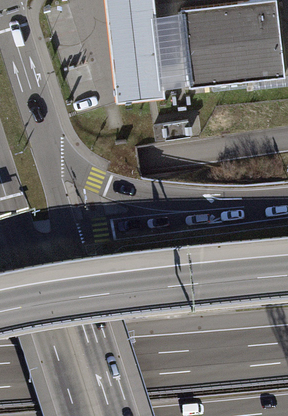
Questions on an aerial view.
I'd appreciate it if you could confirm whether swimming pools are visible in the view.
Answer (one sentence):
No, the scene contains no swimming pool.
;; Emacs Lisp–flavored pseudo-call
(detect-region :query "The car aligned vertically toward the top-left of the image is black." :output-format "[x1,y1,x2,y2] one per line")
[32,98,44,123]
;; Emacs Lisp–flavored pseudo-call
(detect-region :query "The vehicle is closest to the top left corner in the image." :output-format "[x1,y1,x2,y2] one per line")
[10,20,25,48]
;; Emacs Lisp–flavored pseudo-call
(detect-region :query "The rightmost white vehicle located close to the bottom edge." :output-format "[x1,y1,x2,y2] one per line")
[182,402,204,416]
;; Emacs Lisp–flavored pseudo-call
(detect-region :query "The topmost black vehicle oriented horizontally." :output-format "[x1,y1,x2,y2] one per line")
[114,184,136,196]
